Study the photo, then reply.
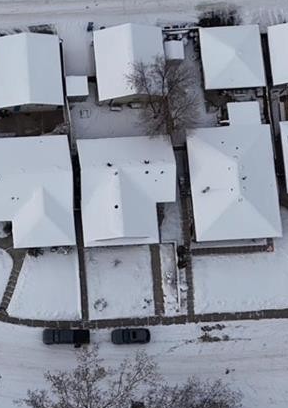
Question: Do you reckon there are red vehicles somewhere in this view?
No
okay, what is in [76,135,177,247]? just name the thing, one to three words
house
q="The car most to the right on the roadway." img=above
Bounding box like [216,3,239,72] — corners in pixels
[112,327,152,345]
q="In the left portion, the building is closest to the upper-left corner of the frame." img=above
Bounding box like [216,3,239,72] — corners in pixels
[0,32,64,108]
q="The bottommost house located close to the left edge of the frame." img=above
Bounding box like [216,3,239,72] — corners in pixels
[0,135,76,248]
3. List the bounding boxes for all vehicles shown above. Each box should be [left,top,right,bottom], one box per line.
[43,327,92,346]
[112,327,152,345]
